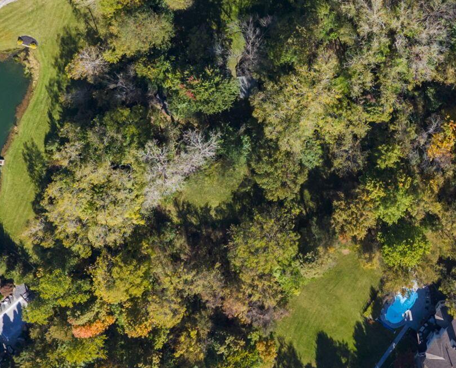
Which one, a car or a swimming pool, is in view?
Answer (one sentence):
The one in the frame is a swimming pool.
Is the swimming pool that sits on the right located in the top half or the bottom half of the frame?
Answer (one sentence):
You can find the swimming pool that sits on the right in the bottom half.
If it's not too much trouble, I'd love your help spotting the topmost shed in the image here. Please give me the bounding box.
[238,74,258,97]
